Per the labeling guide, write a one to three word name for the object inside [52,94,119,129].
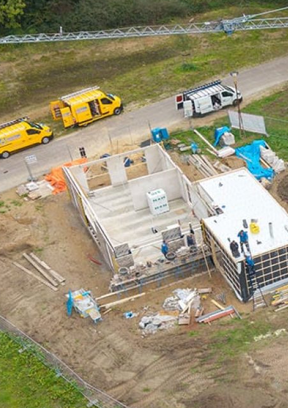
van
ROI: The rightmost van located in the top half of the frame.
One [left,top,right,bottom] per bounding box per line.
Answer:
[175,85,234,118]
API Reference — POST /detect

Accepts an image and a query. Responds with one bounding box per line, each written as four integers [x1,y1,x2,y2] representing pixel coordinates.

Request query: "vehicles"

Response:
[175,85,234,118]
[52,94,119,129]
[0,122,46,159]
